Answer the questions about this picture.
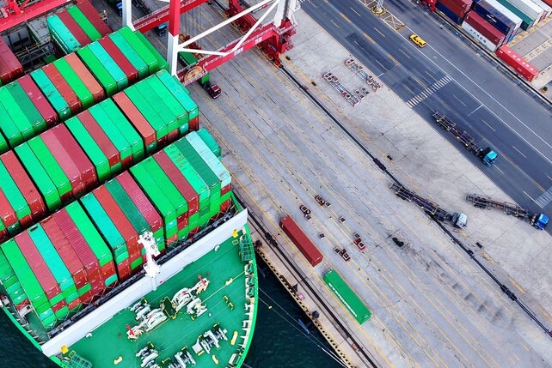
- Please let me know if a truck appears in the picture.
Yes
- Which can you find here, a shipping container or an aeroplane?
shipping container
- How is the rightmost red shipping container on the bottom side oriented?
on a diagonal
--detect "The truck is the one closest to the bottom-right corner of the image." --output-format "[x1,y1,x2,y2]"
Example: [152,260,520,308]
[472,192,546,229]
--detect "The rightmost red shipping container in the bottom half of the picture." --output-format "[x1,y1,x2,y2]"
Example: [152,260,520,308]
[279,216,323,267]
